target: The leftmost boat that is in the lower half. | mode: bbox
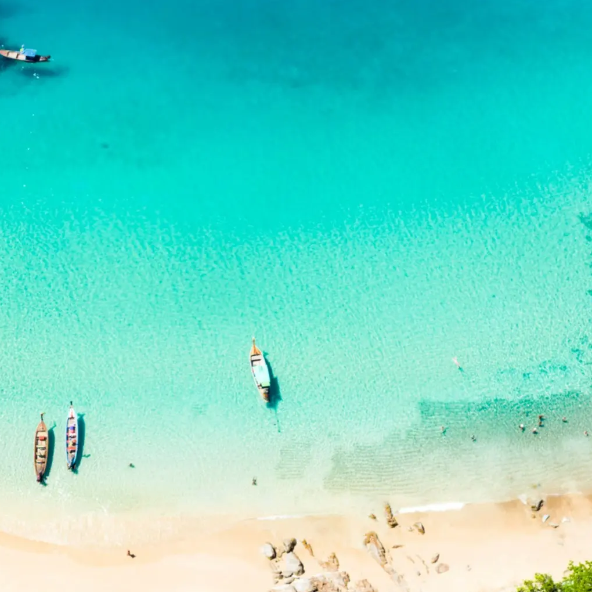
[33,416,49,492]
